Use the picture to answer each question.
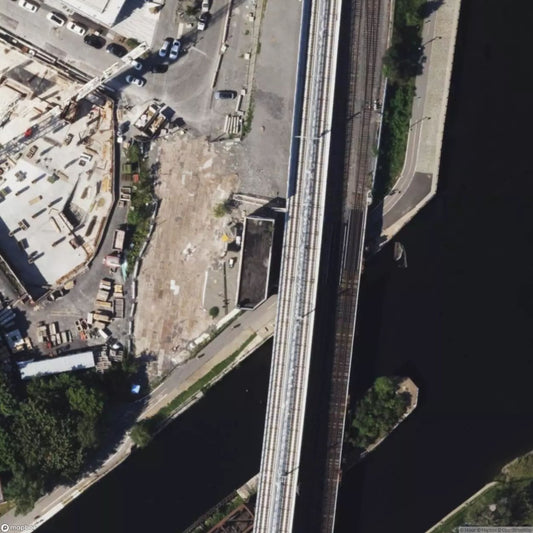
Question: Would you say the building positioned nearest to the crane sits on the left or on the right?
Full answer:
It is on the left.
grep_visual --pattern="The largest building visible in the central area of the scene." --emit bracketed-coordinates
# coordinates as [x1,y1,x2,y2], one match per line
[236,215,275,310]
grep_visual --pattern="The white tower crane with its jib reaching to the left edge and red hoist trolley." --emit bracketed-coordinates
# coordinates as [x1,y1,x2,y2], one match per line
[0,40,149,164]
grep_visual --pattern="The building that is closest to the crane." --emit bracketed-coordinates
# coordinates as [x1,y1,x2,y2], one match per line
[58,0,126,29]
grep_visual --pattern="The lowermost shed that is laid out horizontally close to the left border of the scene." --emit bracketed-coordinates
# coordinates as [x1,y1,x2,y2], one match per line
[19,351,95,379]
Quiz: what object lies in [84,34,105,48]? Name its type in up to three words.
car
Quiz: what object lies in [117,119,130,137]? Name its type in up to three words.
vehicle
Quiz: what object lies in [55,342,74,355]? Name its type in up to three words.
vehicle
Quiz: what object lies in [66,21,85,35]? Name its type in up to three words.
car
